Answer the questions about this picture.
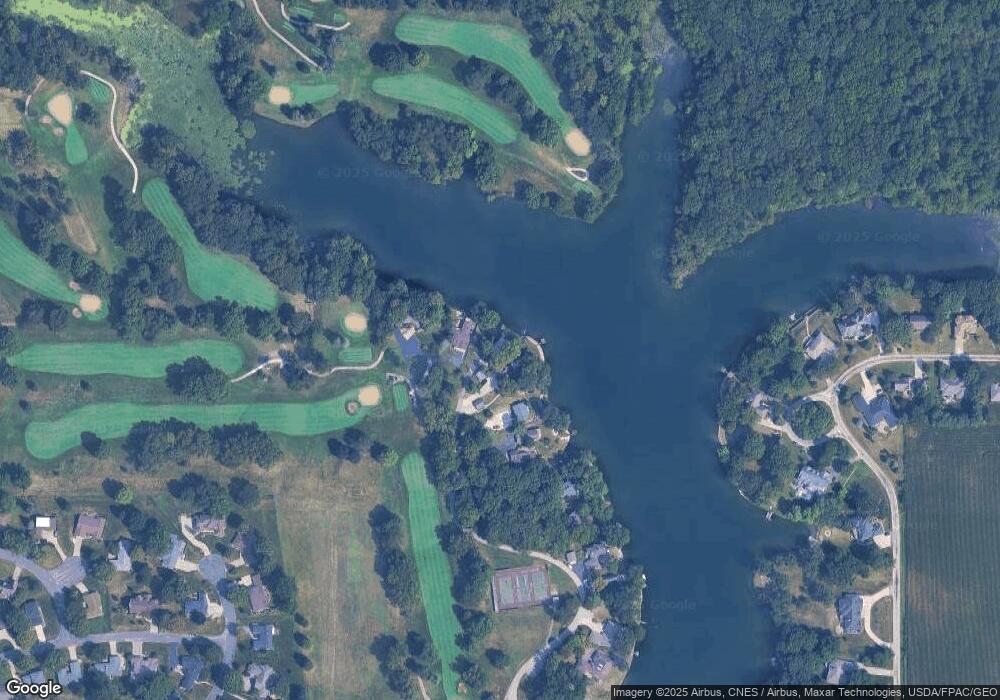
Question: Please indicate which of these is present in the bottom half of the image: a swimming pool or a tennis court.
tennis court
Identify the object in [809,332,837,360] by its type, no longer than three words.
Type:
house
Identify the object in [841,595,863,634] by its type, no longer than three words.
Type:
house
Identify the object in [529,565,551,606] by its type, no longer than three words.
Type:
tennis court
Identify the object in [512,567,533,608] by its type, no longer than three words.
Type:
tennis court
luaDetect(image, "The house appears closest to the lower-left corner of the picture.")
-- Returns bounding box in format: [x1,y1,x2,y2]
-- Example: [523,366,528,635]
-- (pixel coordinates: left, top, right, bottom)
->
[21,670,47,689]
